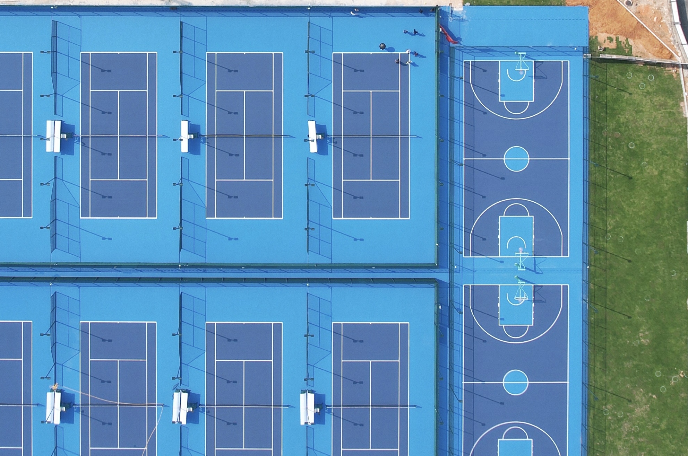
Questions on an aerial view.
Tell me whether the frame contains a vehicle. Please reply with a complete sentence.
No, there is no vehicle in the image.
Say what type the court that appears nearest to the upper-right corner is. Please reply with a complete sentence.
Looking closely, the court that appears nearest to the upper-right corner is a basketball court.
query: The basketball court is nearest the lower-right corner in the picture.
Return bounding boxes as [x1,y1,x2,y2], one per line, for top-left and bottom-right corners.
[462,285,569,456]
